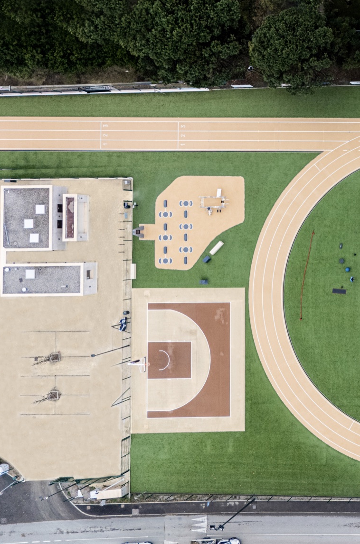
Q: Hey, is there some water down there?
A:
No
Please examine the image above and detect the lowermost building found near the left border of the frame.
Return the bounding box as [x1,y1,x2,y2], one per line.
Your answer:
[0,262,98,296]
